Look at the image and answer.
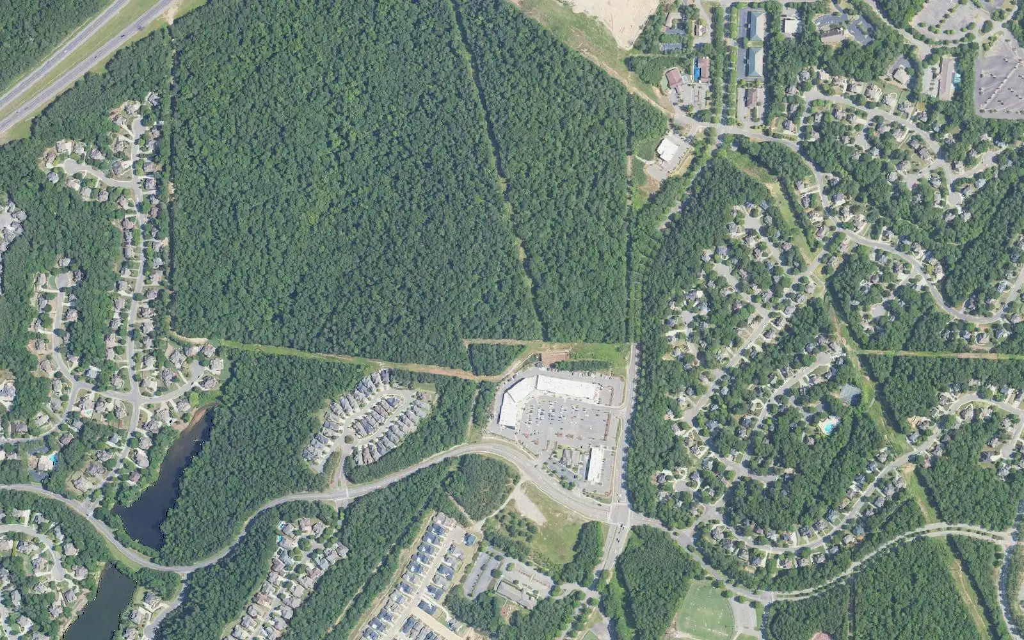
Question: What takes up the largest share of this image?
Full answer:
For the most part, this view shows trees.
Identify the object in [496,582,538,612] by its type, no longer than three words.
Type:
building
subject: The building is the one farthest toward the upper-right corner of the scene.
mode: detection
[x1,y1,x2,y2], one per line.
[939,57,956,100]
